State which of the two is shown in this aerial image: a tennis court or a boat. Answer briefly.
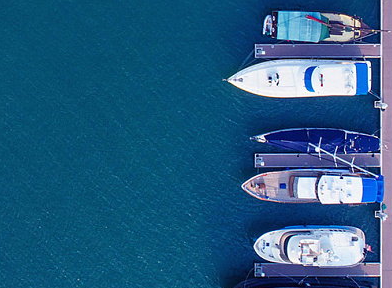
boat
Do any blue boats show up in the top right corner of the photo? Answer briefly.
Yes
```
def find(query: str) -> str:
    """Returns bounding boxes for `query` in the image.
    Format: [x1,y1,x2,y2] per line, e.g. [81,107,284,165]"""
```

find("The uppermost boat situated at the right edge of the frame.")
[267,10,390,44]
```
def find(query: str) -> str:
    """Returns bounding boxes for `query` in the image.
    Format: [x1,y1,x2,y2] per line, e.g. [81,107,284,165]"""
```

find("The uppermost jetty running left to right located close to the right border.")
[254,43,380,58]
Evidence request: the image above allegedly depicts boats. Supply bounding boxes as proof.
[262,14,270,38]
[252,222,375,268]
[267,10,390,44]
[250,125,379,181]
[231,276,376,288]
[225,57,372,99]
[240,165,383,205]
